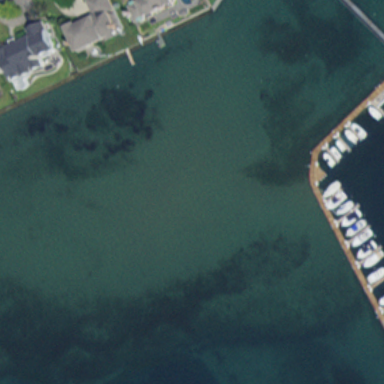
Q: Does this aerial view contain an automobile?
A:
No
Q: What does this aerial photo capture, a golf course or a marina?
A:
marina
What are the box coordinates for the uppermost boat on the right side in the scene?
[367,108,383,123]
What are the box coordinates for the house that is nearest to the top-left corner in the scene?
[0,20,49,77]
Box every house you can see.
[62,0,122,52]
[0,20,49,77]
[124,0,172,24]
